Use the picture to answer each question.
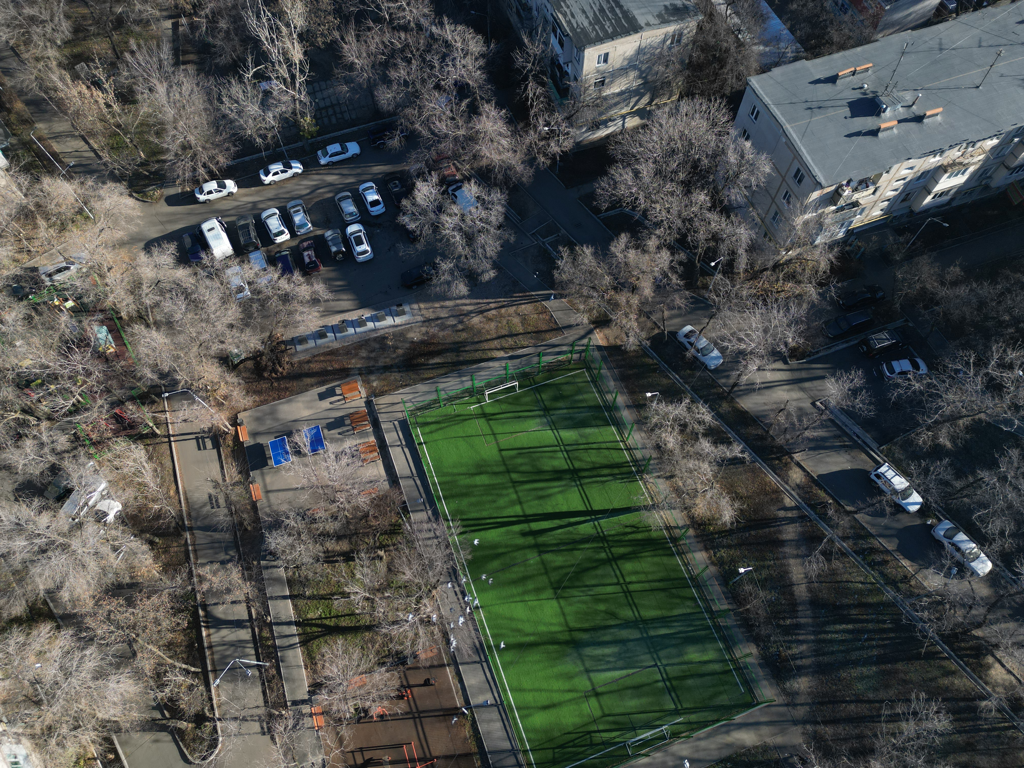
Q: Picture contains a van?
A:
Yes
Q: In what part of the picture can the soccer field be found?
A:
bottom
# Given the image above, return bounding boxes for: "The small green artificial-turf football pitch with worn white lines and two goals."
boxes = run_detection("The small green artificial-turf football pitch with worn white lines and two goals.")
[411,360,754,768]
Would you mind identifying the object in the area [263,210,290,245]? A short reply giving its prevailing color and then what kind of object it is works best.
white car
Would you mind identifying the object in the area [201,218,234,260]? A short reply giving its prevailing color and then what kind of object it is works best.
white van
